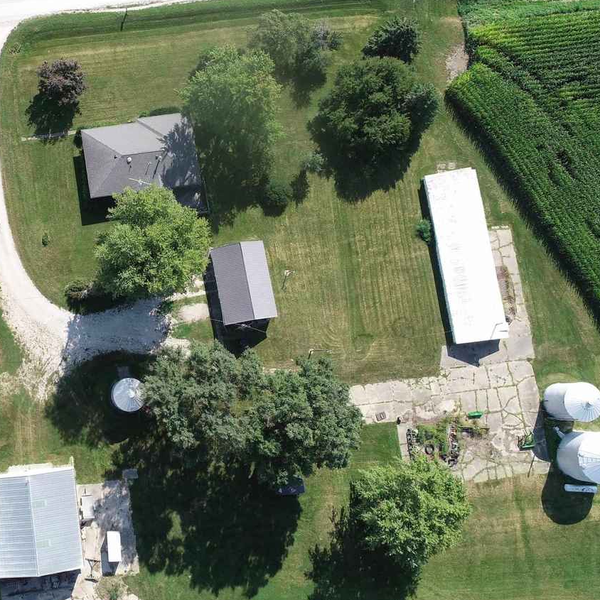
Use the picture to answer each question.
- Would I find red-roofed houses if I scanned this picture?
No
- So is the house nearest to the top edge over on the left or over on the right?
left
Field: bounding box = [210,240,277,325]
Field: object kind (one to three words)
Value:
building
